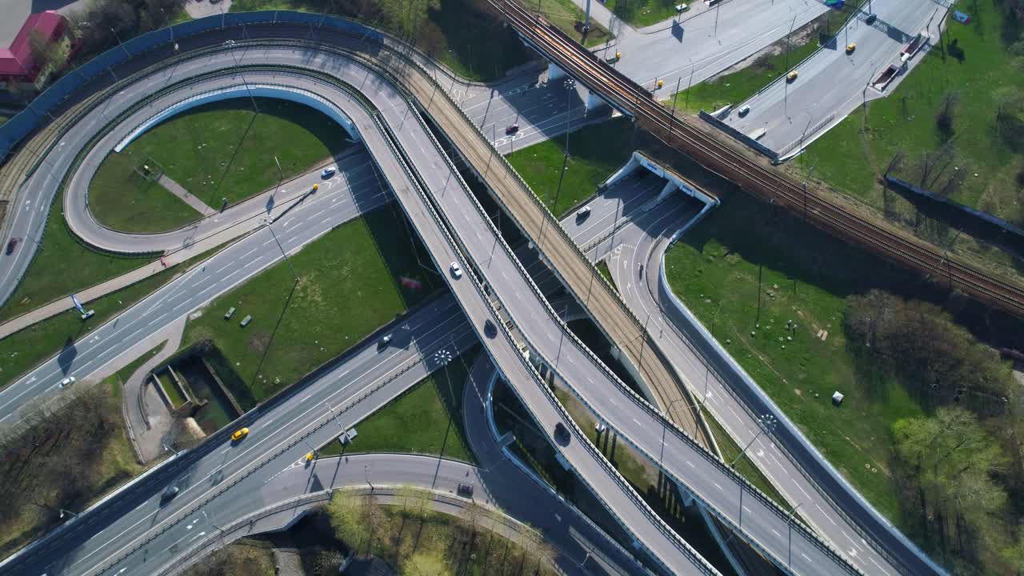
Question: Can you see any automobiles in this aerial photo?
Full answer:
Yes, an automobile is visible in the scene.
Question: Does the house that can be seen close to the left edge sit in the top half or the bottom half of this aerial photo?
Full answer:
It is in the top half that the house that can be seen close to the left edge appears.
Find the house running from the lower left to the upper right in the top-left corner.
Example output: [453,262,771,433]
[0,10,73,85]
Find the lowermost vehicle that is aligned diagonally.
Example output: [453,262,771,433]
[158,484,180,502]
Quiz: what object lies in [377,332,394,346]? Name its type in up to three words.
car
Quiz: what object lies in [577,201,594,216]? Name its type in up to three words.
vehicle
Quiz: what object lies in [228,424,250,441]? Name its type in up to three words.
car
